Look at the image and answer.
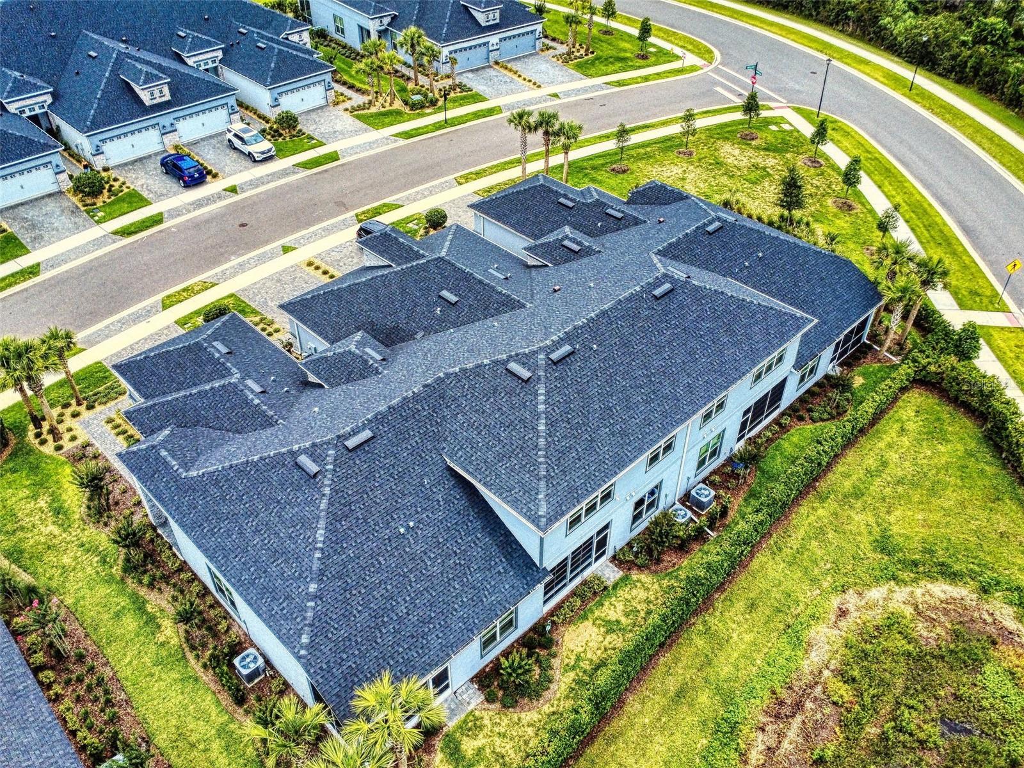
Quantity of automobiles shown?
three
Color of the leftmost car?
blue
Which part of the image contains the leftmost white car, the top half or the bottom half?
top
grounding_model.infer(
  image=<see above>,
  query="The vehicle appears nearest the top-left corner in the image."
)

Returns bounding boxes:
[156,153,208,187]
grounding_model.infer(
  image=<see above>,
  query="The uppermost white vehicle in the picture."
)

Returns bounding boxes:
[223,121,277,163]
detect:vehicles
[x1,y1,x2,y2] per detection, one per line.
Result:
[156,153,208,187]
[223,121,277,163]
[357,215,404,239]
